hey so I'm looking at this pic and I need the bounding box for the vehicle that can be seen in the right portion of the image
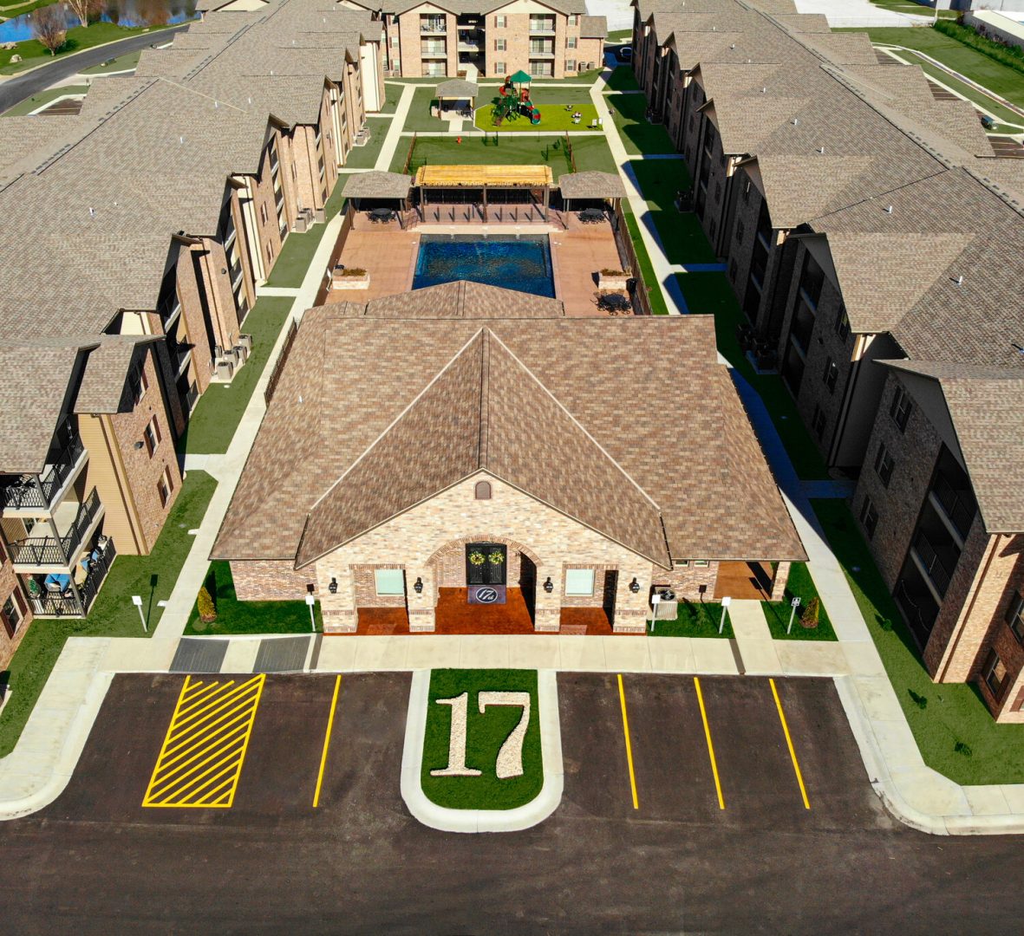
[616,39,631,52]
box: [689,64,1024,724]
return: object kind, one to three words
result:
building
